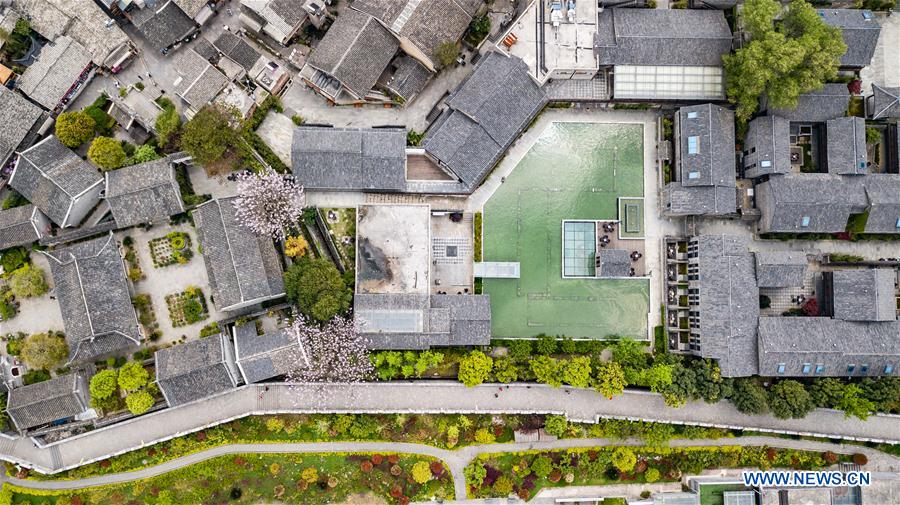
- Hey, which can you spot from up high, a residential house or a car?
residential house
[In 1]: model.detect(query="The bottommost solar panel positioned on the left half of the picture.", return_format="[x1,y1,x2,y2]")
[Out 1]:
[263,54,282,74]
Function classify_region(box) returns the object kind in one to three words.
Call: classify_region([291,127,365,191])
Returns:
house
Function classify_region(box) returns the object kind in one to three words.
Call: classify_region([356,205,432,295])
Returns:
building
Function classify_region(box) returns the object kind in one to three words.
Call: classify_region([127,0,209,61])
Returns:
house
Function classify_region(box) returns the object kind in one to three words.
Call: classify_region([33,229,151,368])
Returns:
building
